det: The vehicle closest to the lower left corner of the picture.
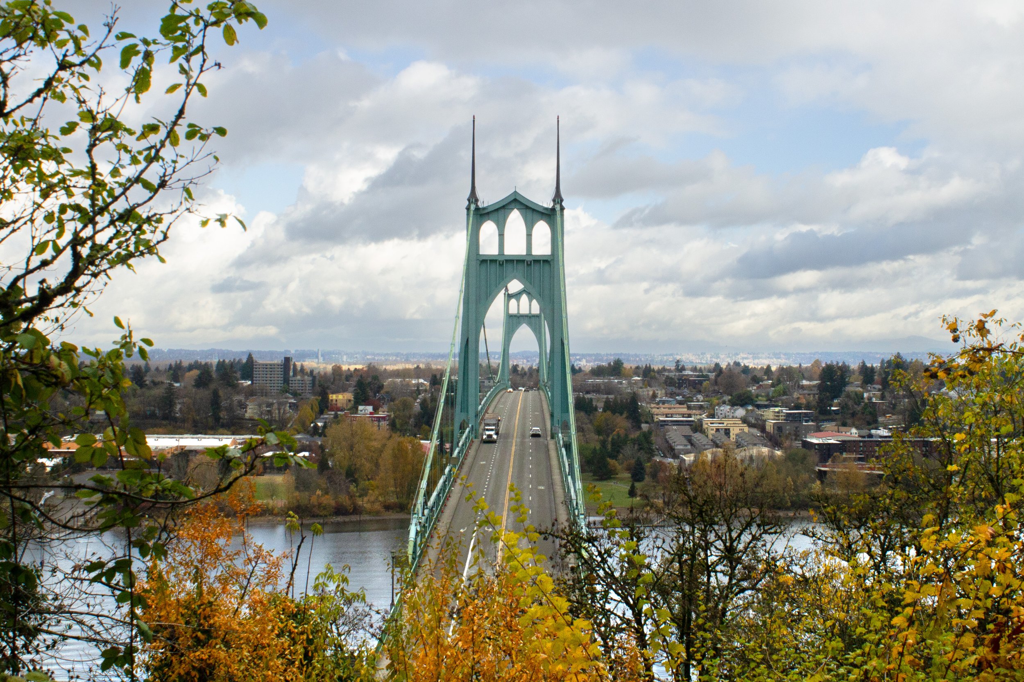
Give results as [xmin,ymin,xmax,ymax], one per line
[483,419,498,443]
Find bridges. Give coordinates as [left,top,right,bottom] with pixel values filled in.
[363,115,595,682]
